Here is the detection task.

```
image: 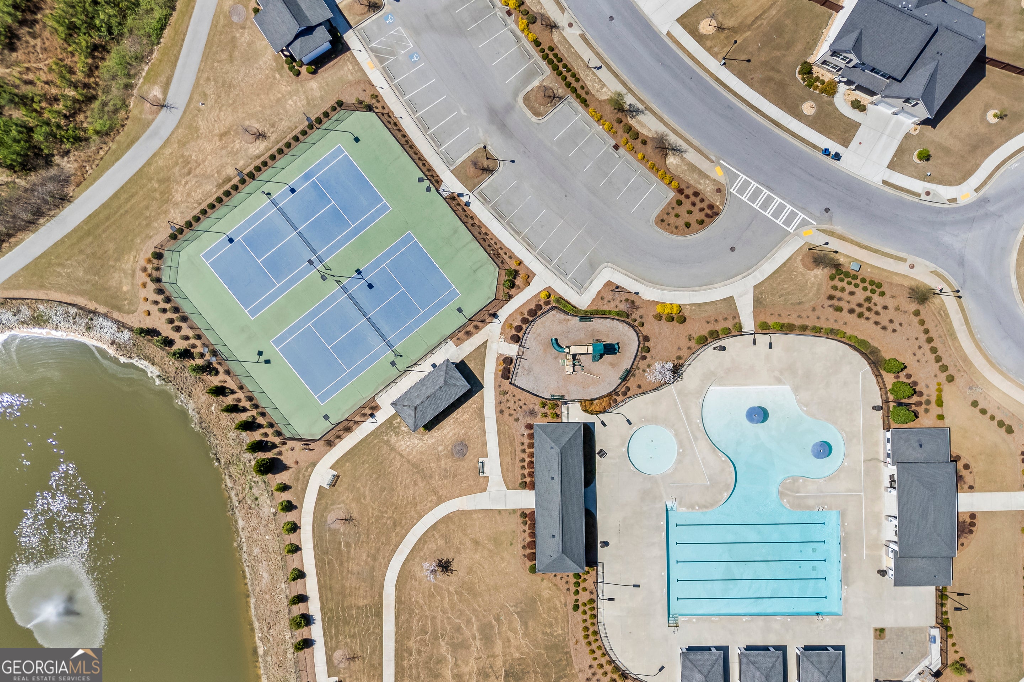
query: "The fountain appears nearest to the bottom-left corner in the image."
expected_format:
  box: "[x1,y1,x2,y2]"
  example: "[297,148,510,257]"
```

[0,541,110,673]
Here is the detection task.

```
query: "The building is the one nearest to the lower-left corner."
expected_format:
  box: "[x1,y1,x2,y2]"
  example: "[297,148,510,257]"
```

[390,358,471,433]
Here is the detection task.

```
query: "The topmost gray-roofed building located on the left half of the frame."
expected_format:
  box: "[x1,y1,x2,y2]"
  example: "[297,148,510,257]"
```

[245,0,334,65]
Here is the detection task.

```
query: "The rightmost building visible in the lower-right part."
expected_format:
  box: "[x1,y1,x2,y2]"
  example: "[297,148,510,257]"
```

[883,428,957,587]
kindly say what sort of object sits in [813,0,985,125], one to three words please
house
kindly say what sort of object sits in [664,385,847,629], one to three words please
swimming pool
